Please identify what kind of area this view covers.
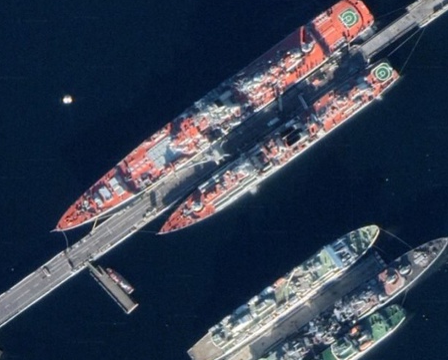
port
